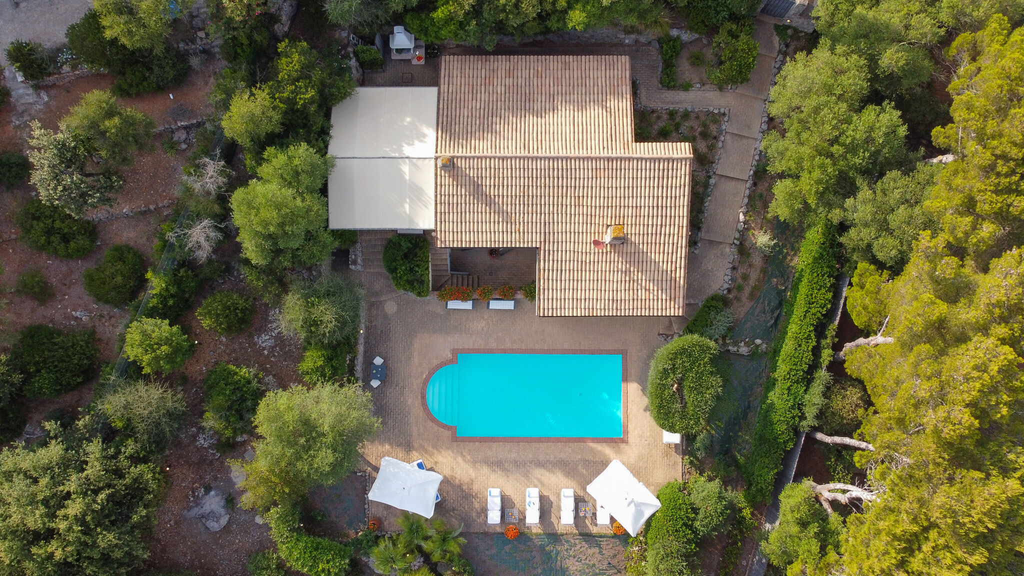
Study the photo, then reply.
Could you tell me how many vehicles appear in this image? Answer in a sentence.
No vehicles are visible.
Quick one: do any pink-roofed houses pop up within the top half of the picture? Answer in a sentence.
No, no pink-roofed house appears within the top half of the picture.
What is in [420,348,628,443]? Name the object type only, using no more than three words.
swimming pool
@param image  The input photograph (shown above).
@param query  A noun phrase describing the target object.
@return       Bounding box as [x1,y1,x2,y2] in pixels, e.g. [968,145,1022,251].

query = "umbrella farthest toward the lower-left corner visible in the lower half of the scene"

[368,456,444,519]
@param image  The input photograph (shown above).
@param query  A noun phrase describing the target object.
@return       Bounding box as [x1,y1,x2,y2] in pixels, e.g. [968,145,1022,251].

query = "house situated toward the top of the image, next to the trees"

[434,56,692,317]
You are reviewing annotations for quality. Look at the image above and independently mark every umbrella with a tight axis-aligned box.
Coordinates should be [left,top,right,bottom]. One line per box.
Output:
[586,460,660,537]
[368,456,444,519]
